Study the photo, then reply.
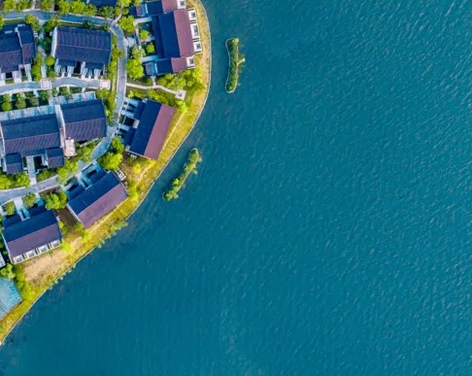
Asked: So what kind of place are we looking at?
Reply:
residential area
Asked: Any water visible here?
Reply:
Yes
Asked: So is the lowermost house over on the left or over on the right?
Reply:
left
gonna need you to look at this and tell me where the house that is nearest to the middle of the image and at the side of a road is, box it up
[114,97,175,161]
